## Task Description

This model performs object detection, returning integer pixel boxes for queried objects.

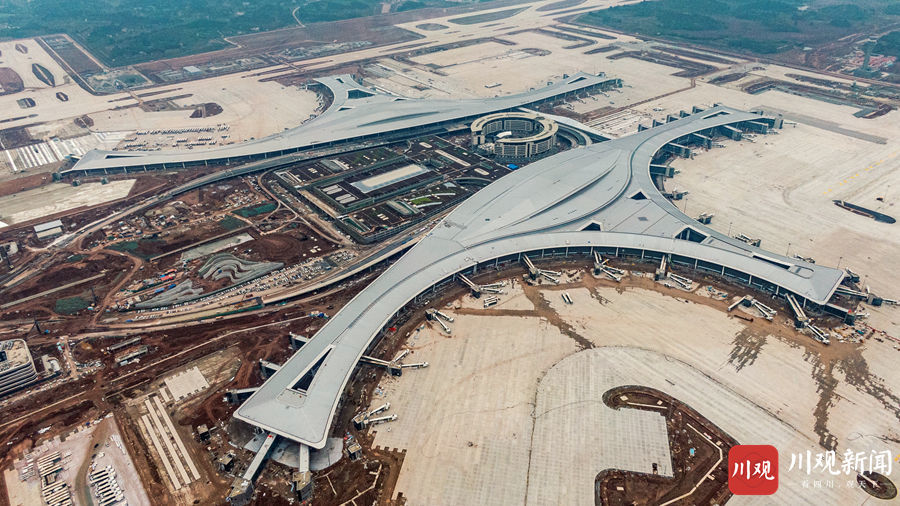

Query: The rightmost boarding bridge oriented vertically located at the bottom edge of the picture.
[292,445,310,499]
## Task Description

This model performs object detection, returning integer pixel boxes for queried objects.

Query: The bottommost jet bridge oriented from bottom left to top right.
[230,434,278,506]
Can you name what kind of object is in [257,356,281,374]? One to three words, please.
jet bridge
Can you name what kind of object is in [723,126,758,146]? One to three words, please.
jet bridge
